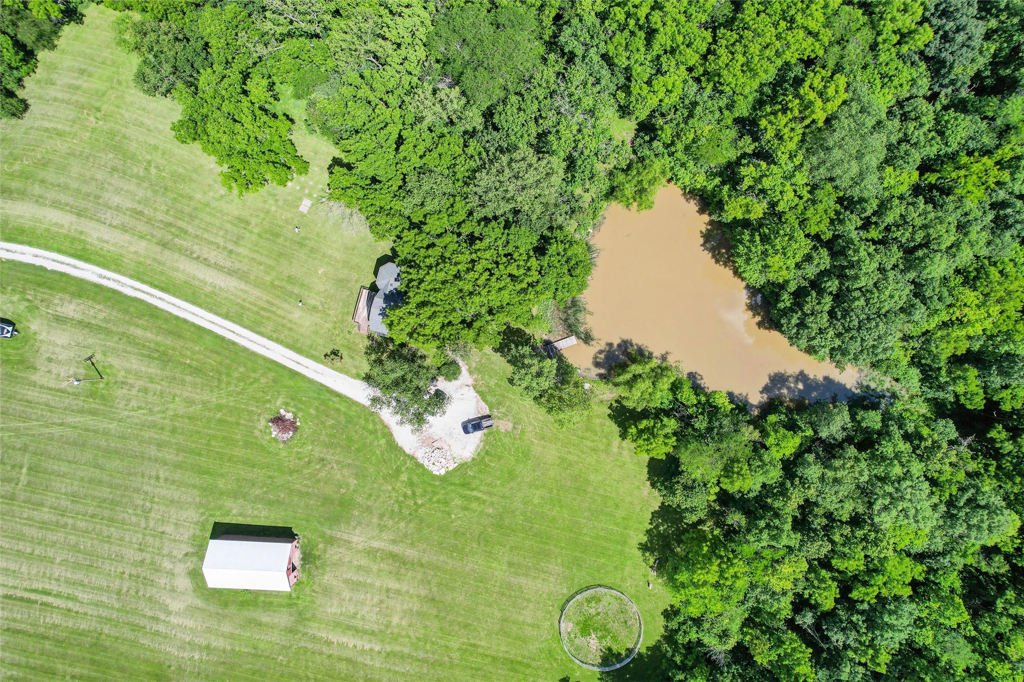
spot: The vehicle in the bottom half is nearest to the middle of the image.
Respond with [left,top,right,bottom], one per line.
[460,416,496,435]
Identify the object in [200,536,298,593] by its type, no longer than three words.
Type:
barn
